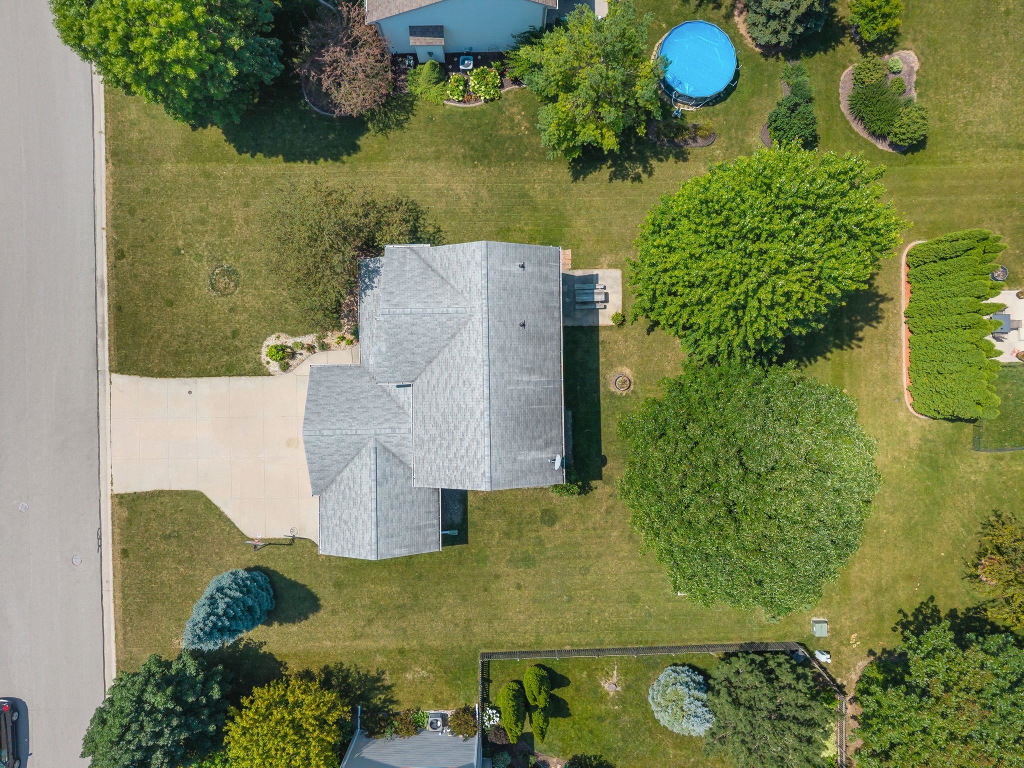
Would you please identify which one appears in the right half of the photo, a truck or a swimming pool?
swimming pool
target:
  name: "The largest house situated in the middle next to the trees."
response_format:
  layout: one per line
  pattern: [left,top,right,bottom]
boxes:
[302,240,568,559]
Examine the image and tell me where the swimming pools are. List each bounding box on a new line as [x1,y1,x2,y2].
[652,19,742,110]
